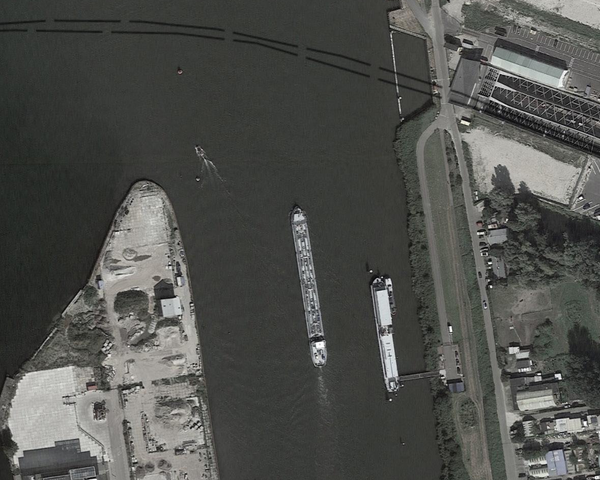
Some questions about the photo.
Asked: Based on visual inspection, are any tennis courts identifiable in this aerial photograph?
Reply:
No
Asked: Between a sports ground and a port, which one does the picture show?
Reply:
port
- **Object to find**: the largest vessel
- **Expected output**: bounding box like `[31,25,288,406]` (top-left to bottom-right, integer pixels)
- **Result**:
[291,207,326,368]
